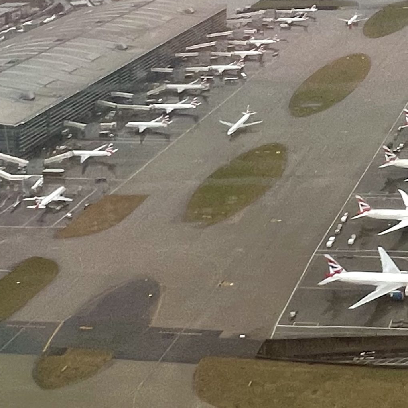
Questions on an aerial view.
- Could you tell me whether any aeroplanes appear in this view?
Yes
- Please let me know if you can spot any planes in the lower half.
Yes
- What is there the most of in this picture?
paved ground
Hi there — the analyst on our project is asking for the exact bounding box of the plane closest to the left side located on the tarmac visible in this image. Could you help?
[29,187,69,206]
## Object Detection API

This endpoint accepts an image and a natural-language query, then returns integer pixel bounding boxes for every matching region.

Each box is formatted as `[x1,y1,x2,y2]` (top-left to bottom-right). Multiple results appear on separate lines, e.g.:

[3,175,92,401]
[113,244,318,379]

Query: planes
[168,77,213,94]
[277,13,310,23]
[231,46,265,57]
[220,104,263,136]
[75,143,120,162]
[248,34,279,46]
[319,248,408,312]
[292,5,318,13]
[379,146,408,168]
[354,188,408,236]
[210,60,248,72]
[29,187,69,206]
[125,115,173,132]
[343,13,366,23]
[152,95,202,113]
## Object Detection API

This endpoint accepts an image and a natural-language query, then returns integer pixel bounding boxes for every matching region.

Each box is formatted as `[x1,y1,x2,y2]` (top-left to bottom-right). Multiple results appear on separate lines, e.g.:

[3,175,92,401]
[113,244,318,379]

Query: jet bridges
[43,148,79,166]
[207,30,233,41]
[0,168,29,187]
[227,18,253,27]
[185,67,214,75]
[62,120,88,132]
[110,91,134,104]
[151,68,174,77]
[96,99,155,113]
[210,53,235,61]
[186,41,216,53]
[262,19,277,26]
[26,178,46,193]
[0,152,32,171]
[175,53,199,62]
[228,41,251,49]
[235,9,264,16]
[146,83,171,96]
